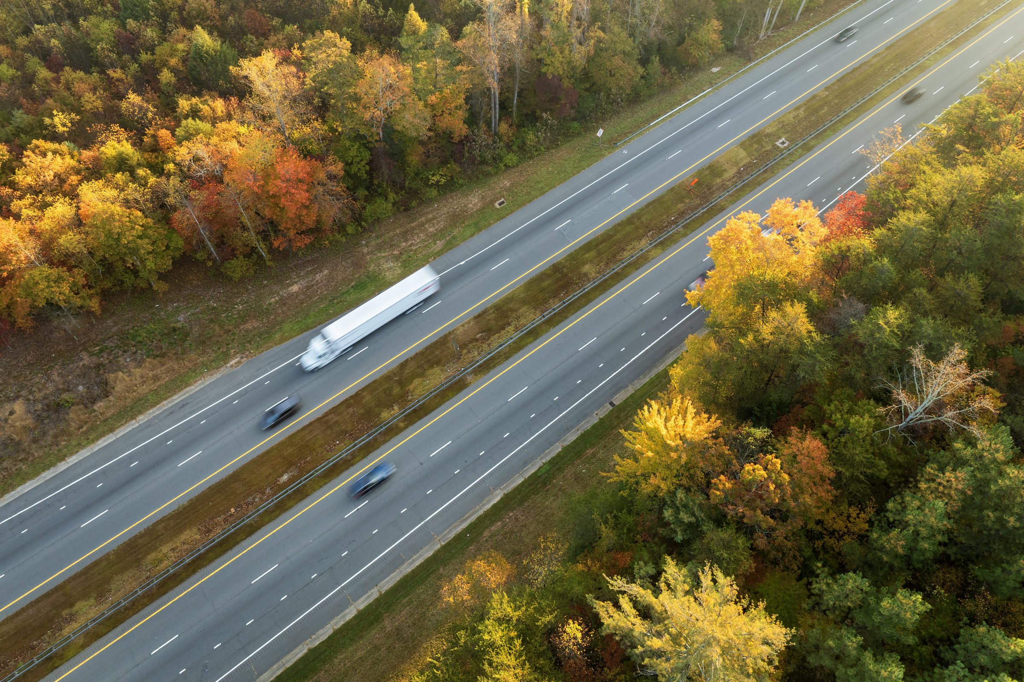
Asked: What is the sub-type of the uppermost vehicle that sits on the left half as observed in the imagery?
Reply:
truck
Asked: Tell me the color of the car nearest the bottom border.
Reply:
blue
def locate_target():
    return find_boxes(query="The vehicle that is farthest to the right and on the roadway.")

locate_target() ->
[900,87,925,105]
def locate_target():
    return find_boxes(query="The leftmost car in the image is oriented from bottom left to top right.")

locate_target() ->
[260,398,299,429]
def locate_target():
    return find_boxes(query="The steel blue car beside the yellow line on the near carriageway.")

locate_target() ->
[350,464,391,498]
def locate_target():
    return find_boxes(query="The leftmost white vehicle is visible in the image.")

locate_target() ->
[299,265,446,376]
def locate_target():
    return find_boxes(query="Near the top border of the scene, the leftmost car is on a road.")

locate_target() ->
[833,24,857,43]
